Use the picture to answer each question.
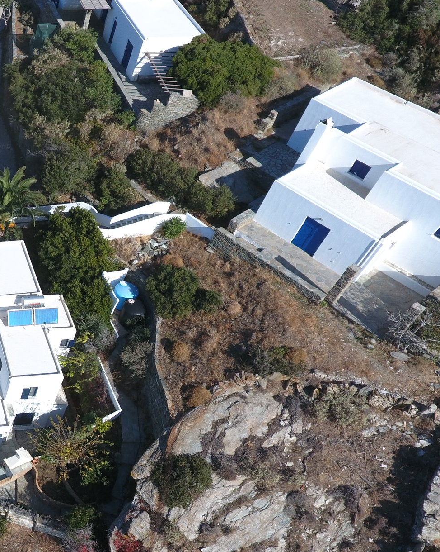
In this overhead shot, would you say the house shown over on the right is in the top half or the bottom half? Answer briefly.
top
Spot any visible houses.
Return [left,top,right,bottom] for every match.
[0,241,78,445]
[256,77,440,285]
[53,0,205,81]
